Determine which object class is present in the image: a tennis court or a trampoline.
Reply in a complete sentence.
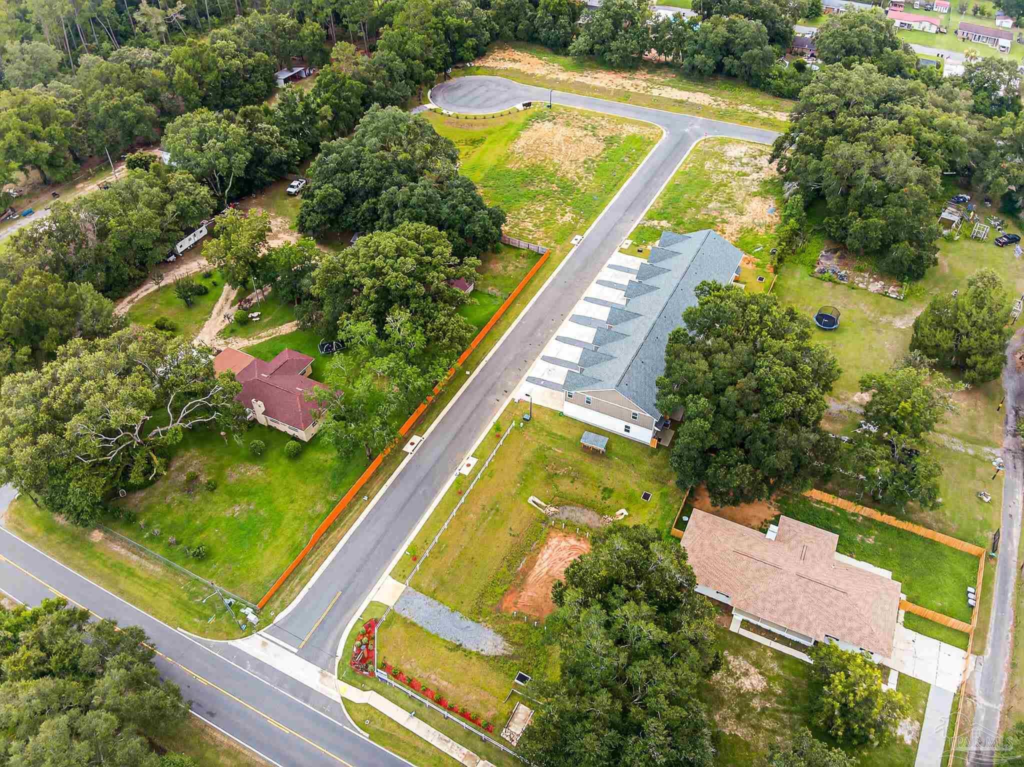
Visible in the photo is a trampoline.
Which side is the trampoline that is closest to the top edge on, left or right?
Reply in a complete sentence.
You can find the trampoline that is closest to the top edge on the right side of the picture.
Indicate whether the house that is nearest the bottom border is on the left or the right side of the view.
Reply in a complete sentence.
The house that is nearest the bottom border appears in the right half of the scene.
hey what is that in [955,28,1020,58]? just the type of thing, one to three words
house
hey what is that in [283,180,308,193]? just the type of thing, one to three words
vehicle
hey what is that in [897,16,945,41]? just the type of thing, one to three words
house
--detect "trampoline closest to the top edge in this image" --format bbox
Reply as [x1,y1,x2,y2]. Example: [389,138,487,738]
[816,305,843,329]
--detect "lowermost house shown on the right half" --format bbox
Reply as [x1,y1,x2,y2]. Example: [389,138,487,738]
[676,511,905,668]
